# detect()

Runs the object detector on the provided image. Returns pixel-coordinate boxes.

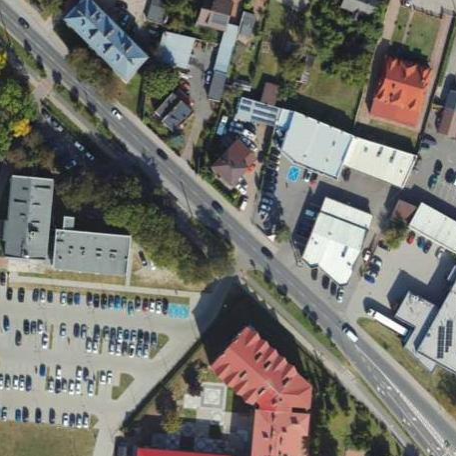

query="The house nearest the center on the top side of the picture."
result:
[213,139,255,188]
